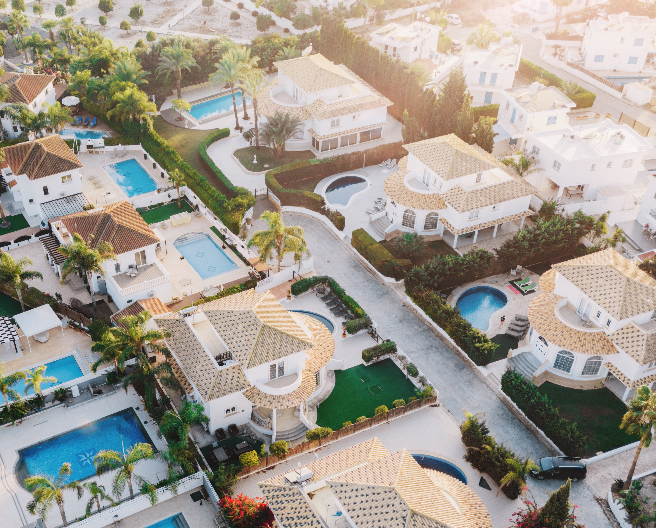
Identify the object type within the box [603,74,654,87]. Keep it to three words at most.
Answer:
swimming pool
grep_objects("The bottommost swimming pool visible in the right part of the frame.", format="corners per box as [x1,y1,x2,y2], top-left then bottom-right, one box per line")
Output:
[415,451,476,490]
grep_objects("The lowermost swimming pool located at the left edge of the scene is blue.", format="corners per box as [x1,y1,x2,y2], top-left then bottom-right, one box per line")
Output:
[14,407,153,495]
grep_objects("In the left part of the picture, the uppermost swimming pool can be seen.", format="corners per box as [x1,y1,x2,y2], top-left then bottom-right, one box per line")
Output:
[187,89,257,123]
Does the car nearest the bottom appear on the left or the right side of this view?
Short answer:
right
